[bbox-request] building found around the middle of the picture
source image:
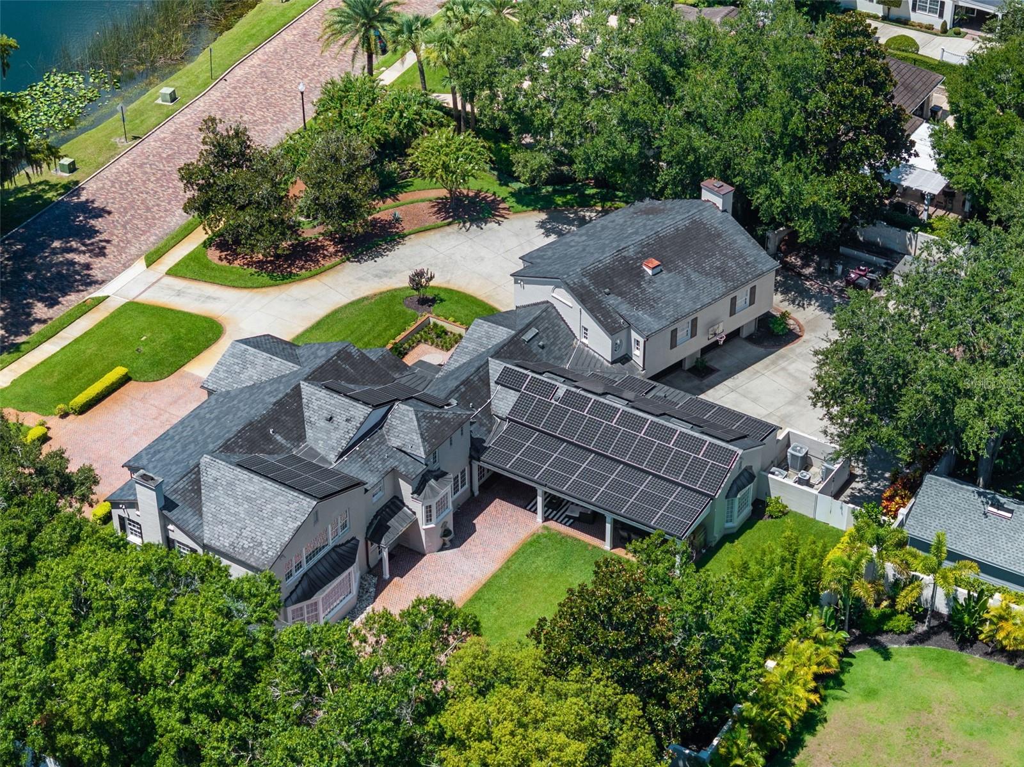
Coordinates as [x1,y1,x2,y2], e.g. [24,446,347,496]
[102,177,784,642]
